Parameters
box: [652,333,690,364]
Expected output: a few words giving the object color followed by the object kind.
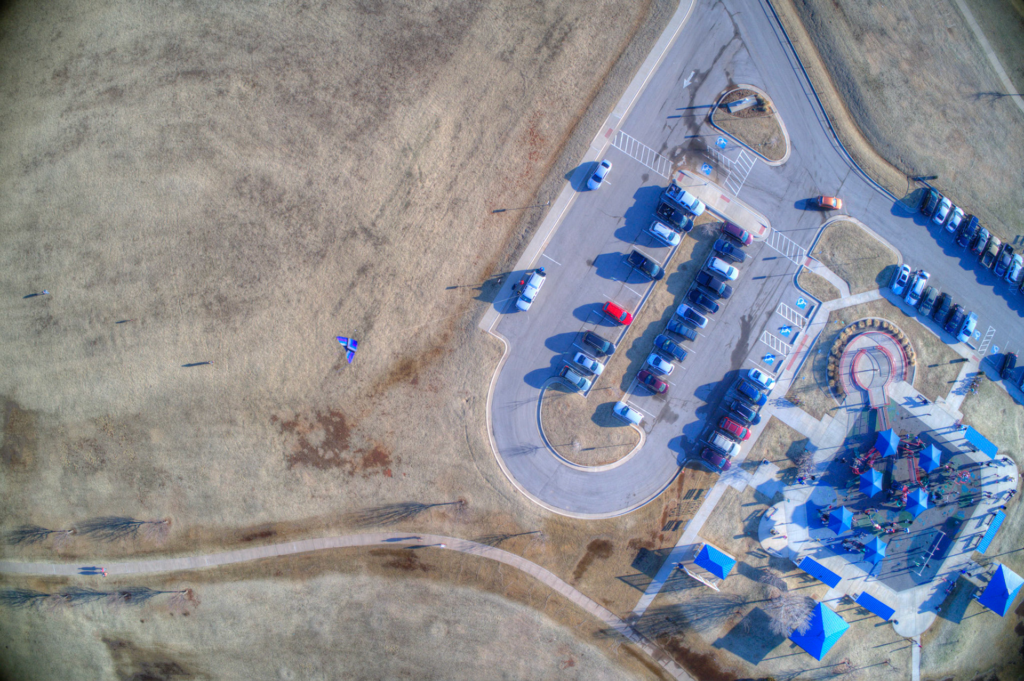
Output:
blue truck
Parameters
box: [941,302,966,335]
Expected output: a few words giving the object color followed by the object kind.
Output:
blue car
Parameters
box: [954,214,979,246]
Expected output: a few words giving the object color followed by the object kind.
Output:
blue car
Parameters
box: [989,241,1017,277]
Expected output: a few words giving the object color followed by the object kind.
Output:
blue truck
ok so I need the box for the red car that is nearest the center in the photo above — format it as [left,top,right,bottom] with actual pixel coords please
[601,300,633,327]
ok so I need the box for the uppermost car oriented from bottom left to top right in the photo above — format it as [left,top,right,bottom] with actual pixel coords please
[587,158,613,191]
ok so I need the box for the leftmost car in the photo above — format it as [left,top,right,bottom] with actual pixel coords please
[517,268,547,309]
